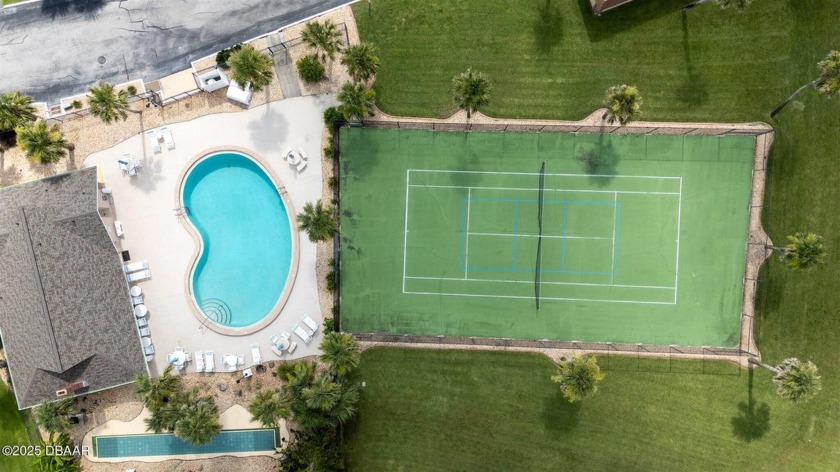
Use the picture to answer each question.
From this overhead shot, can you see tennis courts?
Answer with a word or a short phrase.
Yes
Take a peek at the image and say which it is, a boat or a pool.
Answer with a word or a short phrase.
pool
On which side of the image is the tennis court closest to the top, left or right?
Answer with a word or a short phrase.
right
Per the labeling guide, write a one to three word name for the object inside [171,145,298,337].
swimming pool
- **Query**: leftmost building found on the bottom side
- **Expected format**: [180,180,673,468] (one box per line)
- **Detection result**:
[0,166,149,410]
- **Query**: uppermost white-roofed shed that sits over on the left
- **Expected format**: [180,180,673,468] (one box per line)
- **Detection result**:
[228,79,256,104]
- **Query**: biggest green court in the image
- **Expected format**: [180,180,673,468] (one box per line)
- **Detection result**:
[340,127,756,348]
